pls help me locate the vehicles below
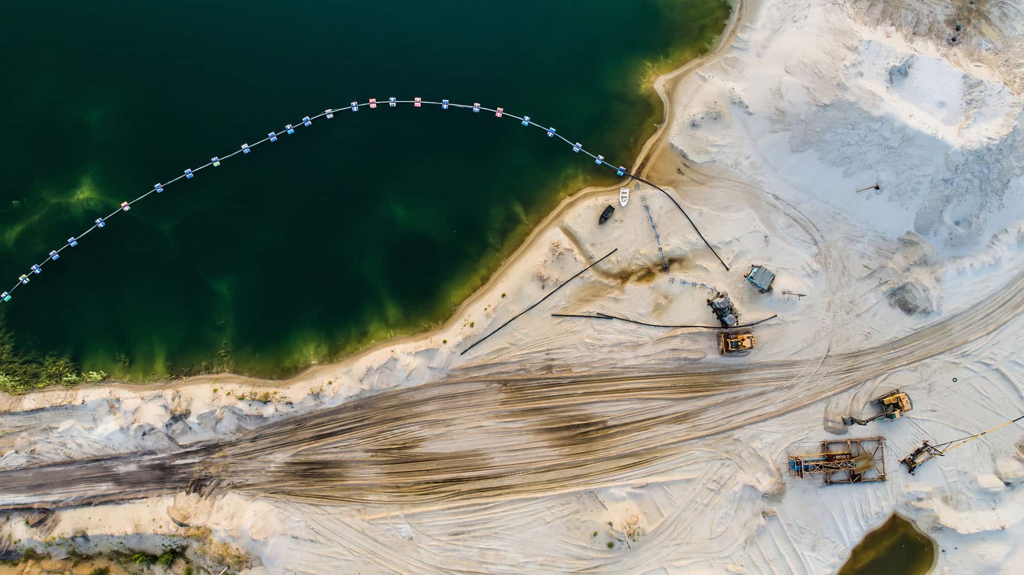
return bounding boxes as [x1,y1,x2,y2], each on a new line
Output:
[843,390,909,422]
[714,333,753,356]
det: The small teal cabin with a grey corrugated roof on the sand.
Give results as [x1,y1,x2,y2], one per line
[746,267,773,291]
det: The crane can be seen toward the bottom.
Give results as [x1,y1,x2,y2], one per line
[897,416,1024,476]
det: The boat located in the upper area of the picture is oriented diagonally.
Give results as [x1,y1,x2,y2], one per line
[600,204,616,223]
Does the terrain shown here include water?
Yes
